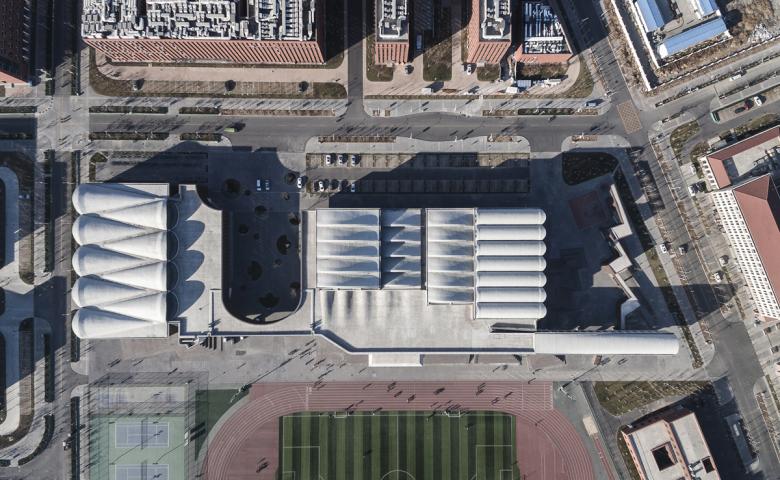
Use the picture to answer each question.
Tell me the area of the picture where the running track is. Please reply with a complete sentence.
The running track sits in the bottom section of the image.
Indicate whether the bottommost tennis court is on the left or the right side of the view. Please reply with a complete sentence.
The bottommost tennis court sits on the left side.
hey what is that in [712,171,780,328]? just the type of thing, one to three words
building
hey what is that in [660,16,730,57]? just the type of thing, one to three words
shed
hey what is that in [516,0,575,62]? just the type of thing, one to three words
building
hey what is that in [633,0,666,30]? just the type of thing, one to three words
shed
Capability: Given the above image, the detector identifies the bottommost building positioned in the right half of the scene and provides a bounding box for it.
[621,405,718,480]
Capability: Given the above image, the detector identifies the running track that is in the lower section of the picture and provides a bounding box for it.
[195,382,617,480]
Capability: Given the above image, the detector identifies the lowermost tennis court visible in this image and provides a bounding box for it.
[88,414,184,480]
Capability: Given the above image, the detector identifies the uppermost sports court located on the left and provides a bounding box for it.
[88,384,190,413]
